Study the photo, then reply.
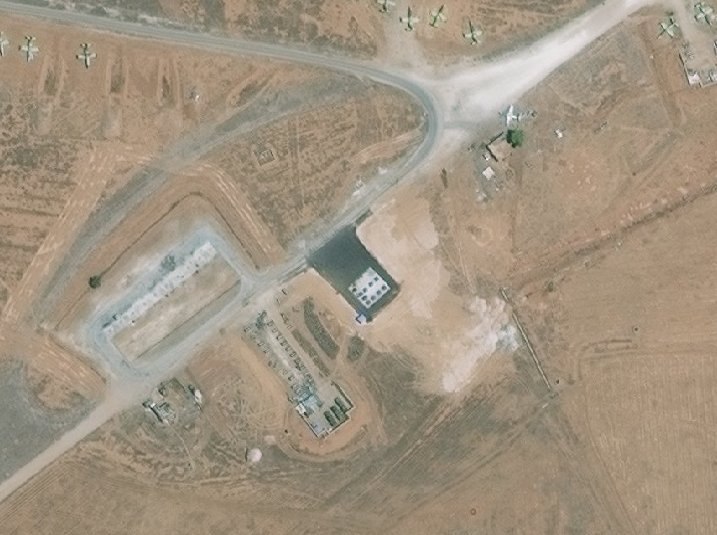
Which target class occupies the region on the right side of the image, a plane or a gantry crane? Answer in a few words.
plane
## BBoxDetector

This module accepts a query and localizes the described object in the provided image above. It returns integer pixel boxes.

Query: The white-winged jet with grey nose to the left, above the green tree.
[499,105,522,125]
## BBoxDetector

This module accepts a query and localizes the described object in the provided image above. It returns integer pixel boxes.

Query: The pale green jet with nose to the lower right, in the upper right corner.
[695,2,716,25]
